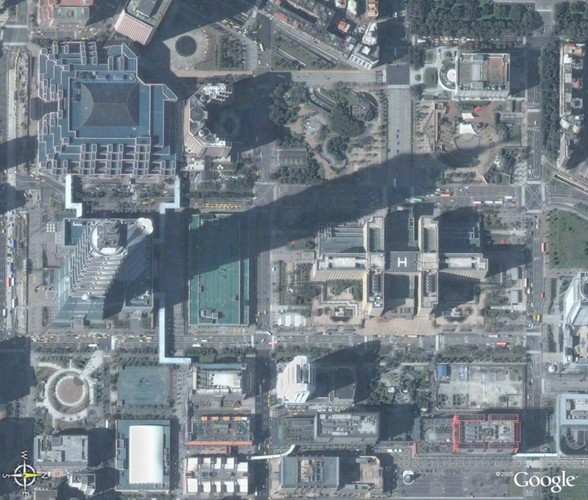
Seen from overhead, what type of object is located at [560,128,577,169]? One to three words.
house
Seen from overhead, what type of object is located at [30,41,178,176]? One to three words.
building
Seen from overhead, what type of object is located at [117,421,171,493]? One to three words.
building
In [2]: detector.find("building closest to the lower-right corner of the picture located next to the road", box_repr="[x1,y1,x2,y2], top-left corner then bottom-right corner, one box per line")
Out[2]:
[549,394,588,460]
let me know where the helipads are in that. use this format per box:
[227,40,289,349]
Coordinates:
[386,253,418,270]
